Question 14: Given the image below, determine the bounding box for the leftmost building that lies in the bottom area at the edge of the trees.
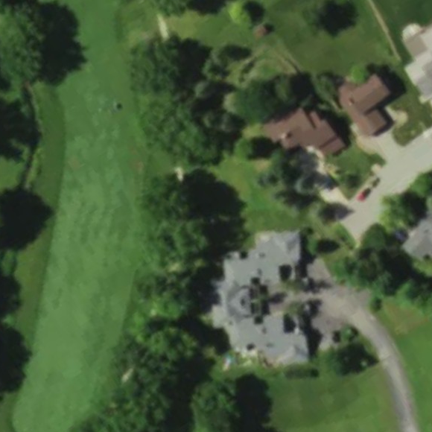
[218,231,310,364]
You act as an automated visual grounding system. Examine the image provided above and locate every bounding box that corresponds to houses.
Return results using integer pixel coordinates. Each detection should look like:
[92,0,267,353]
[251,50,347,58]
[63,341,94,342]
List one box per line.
[408,212,432,261]
[339,73,391,136]
[218,231,310,364]
[265,107,346,157]
[404,23,432,99]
